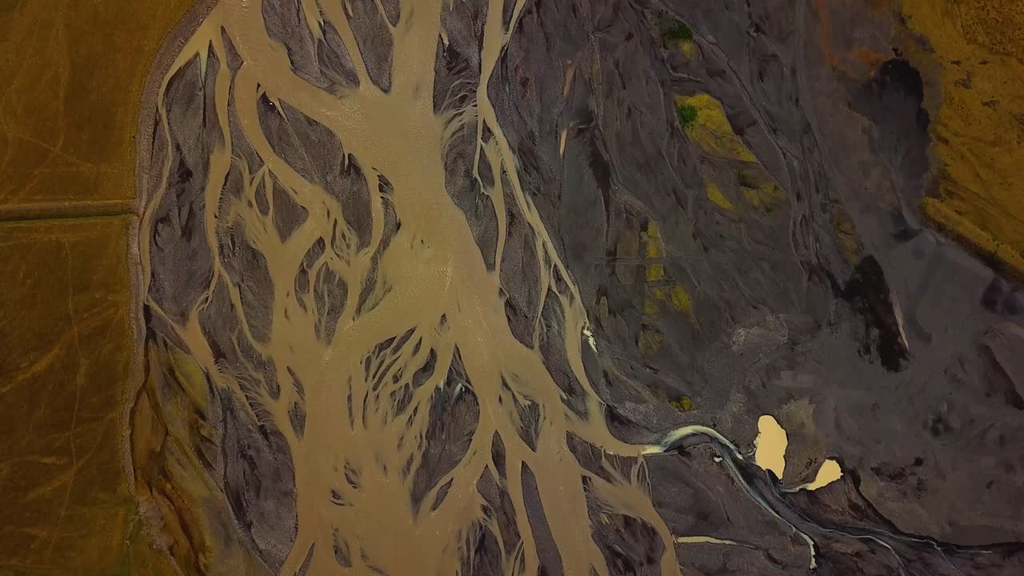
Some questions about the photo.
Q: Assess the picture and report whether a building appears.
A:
No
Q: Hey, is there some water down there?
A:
Yes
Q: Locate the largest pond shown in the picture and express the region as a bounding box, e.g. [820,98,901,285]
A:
[754,414,789,480]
